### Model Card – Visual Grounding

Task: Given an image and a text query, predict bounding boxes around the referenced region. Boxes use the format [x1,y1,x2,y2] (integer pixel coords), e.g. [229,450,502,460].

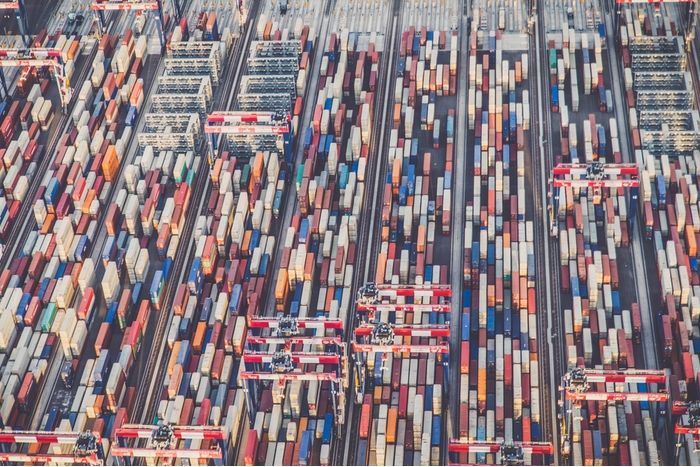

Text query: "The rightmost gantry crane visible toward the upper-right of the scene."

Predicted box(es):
[616,0,697,49]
